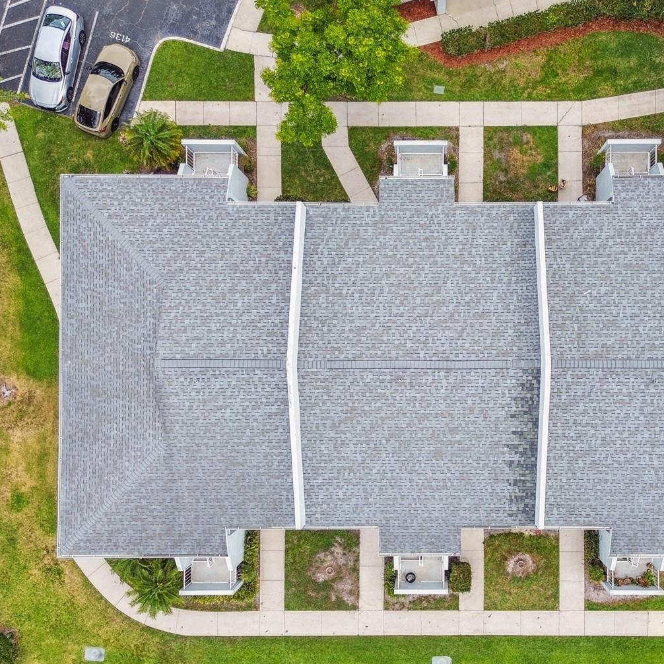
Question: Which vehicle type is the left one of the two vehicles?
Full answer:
It looks like the left one of the two vehicles is an automobile.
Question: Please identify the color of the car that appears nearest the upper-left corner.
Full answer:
From above, the car that appears nearest the upper-left corner appears white.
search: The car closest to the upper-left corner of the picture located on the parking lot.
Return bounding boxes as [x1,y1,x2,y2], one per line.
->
[22,3,86,112]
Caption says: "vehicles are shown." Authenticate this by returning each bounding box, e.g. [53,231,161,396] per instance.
[69,41,140,139]
[22,3,86,112]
